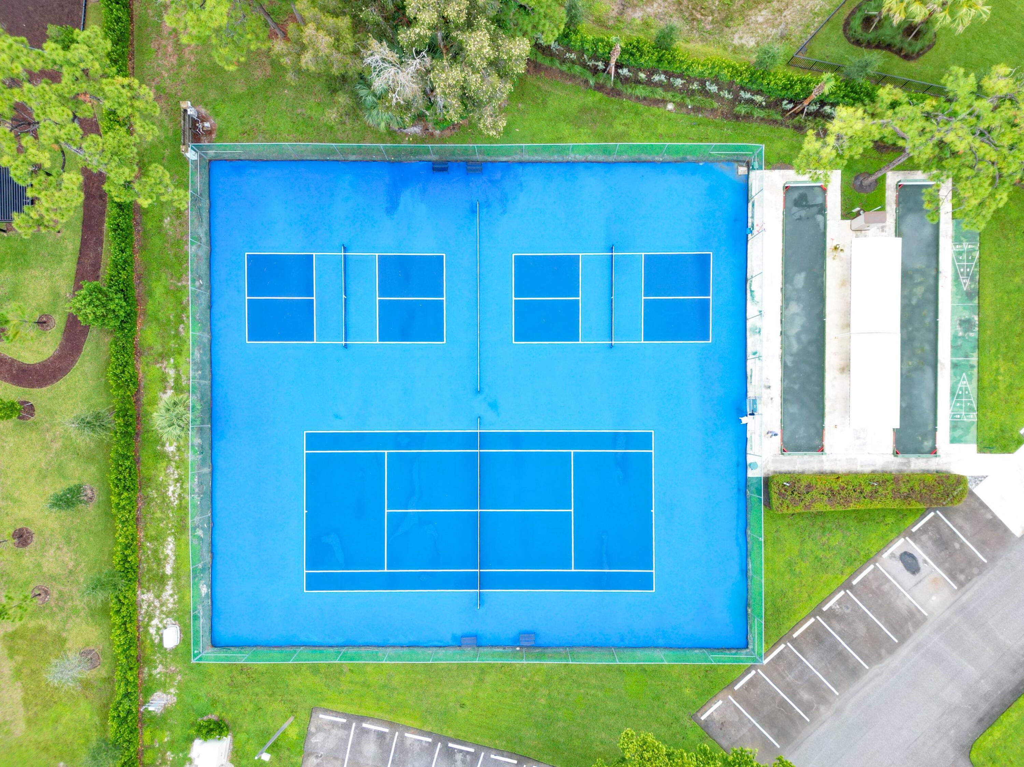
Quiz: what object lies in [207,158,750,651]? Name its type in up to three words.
sports court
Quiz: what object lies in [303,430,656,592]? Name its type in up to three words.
tennis court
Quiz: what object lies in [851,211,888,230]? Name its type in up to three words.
shed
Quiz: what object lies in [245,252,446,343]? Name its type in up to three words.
sports court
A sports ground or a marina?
sports ground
